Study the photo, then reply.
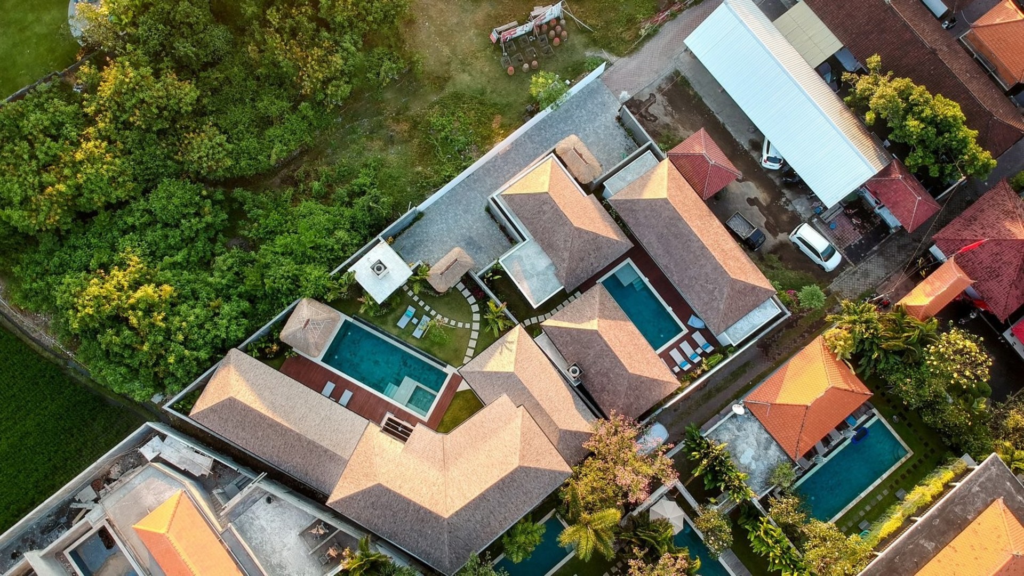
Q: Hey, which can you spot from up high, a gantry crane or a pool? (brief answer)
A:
pool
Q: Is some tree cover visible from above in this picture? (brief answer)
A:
Yes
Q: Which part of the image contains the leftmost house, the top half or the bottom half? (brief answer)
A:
bottom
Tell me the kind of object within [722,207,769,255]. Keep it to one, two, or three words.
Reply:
truck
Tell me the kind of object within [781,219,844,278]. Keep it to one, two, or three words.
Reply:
car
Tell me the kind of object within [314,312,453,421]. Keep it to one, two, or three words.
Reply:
swimming pool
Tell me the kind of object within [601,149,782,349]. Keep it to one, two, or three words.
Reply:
house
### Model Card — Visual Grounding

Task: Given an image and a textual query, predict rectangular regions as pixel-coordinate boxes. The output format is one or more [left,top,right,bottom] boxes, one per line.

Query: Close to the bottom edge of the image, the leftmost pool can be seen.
[475,509,582,576]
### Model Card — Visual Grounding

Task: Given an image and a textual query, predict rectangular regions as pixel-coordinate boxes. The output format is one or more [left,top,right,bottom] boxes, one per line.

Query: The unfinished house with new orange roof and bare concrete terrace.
[99,461,259,576]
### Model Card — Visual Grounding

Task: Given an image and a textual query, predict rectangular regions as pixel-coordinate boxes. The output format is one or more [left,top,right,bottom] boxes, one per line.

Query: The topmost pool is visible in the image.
[600,256,689,354]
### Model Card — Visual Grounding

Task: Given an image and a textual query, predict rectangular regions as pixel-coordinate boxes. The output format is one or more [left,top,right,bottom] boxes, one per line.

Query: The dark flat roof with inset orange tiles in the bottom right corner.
[849,453,1024,576]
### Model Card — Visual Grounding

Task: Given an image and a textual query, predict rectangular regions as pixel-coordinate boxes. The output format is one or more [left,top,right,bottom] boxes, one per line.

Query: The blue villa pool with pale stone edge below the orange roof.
[791,415,916,521]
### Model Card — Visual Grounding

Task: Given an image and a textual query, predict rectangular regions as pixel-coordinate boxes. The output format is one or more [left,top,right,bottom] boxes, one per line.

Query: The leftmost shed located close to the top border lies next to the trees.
[684,0,893,208]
